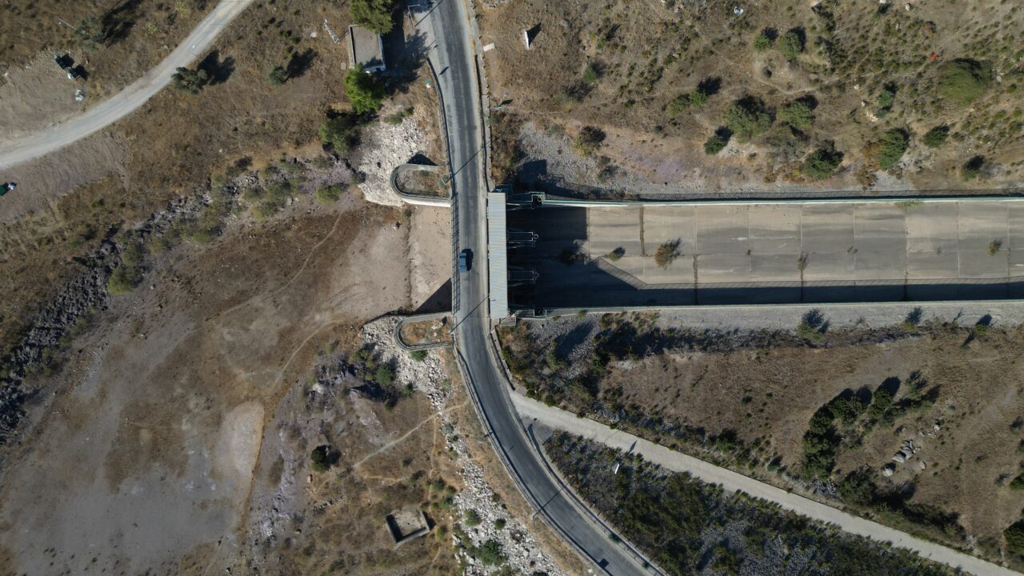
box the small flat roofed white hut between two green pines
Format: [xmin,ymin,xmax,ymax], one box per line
[349,25,389,81]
